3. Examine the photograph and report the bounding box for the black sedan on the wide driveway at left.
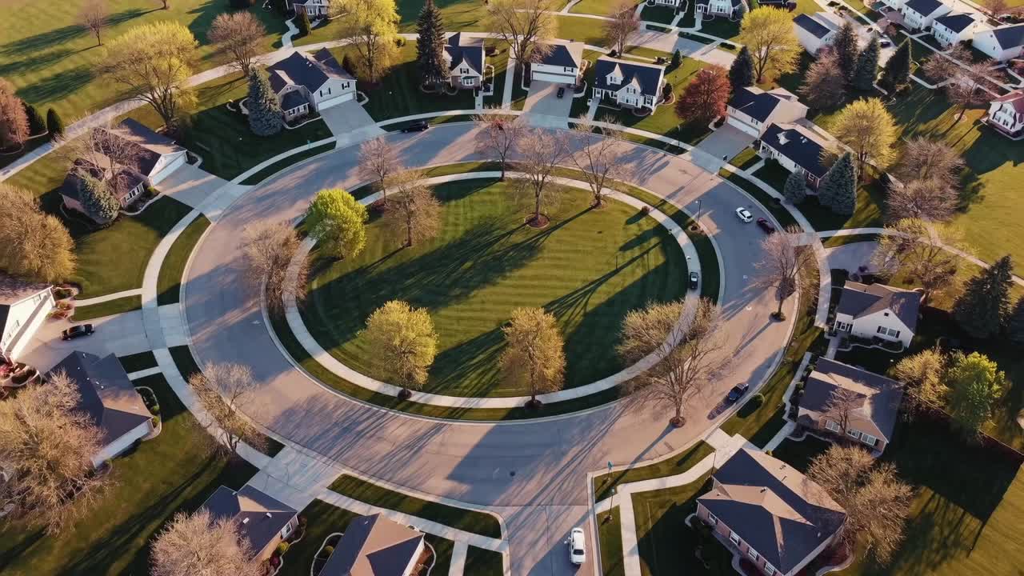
[61,322,94,338]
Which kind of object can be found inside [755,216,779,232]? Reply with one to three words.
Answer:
car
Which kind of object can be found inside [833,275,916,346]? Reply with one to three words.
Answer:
house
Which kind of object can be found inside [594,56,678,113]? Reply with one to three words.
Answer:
house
